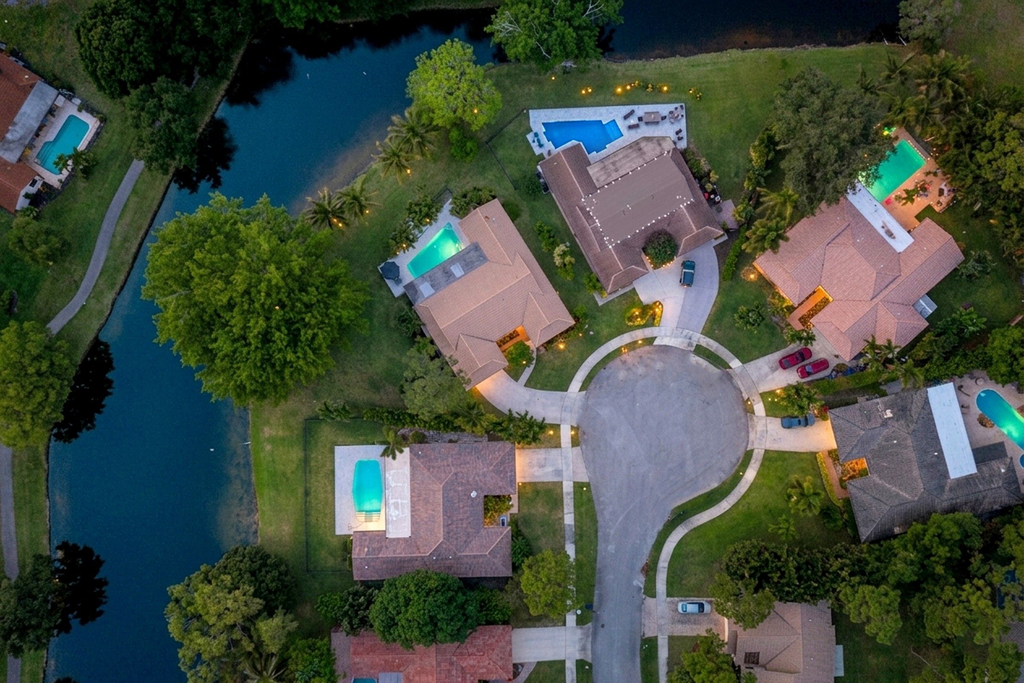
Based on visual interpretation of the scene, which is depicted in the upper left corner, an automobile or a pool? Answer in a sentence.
What appears in the upper left corner is a pool.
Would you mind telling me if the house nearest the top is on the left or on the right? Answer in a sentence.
It is on the left.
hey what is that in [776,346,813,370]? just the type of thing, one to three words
car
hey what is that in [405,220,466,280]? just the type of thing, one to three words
swimming pool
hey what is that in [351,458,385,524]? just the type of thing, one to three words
swimming pool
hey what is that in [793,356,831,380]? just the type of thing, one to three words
car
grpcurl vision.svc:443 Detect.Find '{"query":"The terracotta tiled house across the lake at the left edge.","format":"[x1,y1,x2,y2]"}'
[0,55,70,214]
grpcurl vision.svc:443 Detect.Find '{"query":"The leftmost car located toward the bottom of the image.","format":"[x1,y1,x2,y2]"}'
[676,598,711,616]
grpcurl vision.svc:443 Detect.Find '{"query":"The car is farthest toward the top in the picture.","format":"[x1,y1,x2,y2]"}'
[680,260,695,289]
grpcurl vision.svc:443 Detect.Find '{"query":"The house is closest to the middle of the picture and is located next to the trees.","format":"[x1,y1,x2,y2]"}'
[403,198,575,391]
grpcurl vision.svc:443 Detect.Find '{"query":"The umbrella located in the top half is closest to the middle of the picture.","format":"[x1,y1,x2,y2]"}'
[380,261,401,281]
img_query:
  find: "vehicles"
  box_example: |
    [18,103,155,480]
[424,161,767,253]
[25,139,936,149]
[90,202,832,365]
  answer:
[793,356,831,380]
[676,598,711,616]
[778,414,816,430]
[680,260,695,289]
[776,346,813,370]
